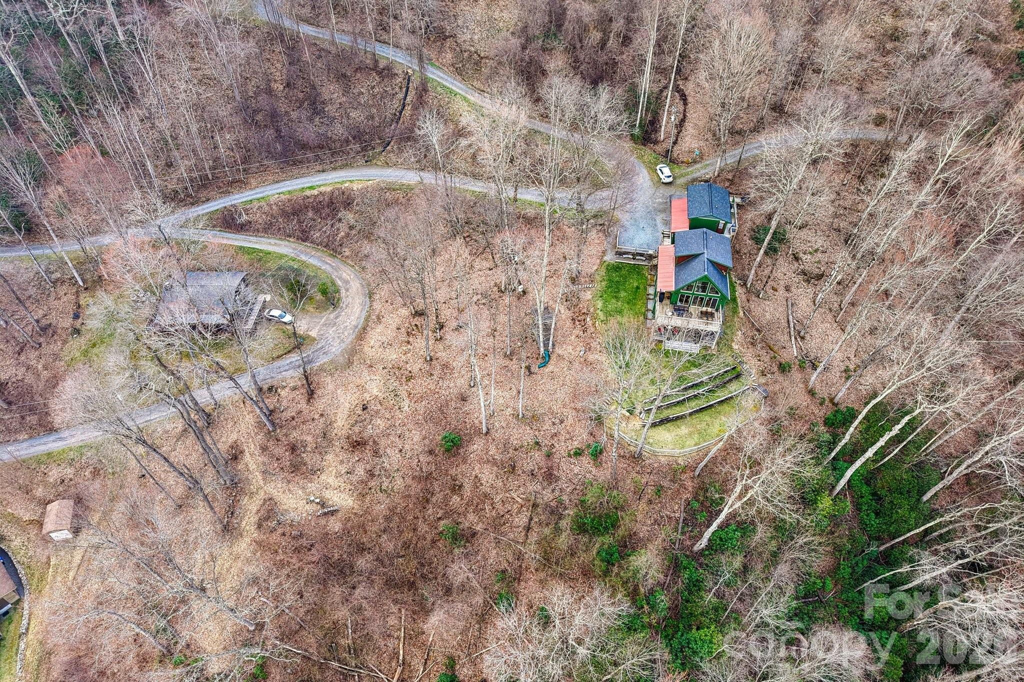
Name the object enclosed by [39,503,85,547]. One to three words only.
shed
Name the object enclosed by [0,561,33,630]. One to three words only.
house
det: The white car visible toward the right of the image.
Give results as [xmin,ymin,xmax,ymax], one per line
[658,166,674,181]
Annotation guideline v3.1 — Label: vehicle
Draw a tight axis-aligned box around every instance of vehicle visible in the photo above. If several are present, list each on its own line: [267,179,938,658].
[658,166,674,181]
[263,310,293,326]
